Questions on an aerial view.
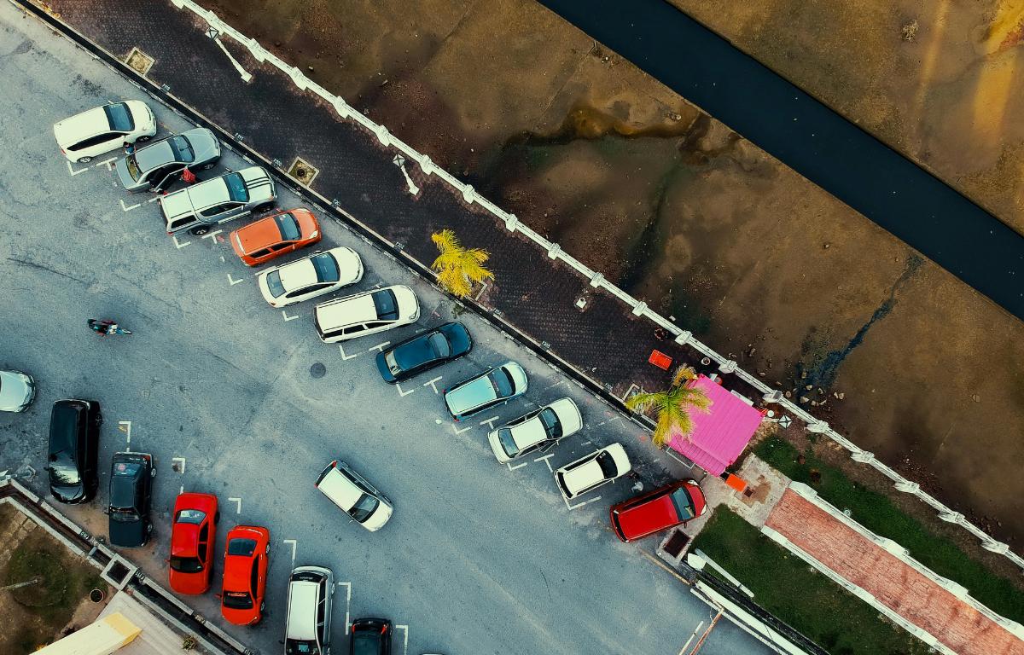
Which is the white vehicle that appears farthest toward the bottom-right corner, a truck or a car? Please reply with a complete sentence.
The white vehicle that appears farthest toward the bottom-right corner in the image is a car.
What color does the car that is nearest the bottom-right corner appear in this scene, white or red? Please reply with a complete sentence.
The car that is nearest the bottom-right corner looks red in the image.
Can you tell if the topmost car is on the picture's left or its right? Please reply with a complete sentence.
It is on the left.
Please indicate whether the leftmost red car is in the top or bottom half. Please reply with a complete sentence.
The leftmost red car is in the bottom half of the image.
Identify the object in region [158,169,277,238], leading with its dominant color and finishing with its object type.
white truck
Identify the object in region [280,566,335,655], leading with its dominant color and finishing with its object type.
white car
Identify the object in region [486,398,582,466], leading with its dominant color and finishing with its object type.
white car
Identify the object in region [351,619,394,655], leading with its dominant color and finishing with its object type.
black car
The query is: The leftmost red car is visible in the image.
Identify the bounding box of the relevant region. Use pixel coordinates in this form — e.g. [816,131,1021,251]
[163,493,220,595]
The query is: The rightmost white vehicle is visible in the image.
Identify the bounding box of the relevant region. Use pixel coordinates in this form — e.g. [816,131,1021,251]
[554,443,631,500]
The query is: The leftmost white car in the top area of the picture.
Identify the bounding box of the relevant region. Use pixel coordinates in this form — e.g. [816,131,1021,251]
[54,102,157,162]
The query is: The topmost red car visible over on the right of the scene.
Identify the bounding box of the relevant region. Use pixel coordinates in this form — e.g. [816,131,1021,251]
[609,478,704,544]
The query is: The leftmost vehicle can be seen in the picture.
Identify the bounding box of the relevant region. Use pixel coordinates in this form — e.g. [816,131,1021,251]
[0,367,39,411]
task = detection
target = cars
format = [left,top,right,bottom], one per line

[102,453,156,547]
[375,323,472,387]
[609,478,704,544]
[259,247,361,310]
[313,284,419,344]
[554,443,631,500]
[0,367,39,411]
[351,619,394,655]
[231,207,320,267]
[442,360,526,422]
[312,460,393,533]
[116,131,221,195]
[486,398,582,466]
[213,526,271,625]
[54,102,157,162]
[44,400,104,506]
[280,566,335,655]
[163,493,220,595]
